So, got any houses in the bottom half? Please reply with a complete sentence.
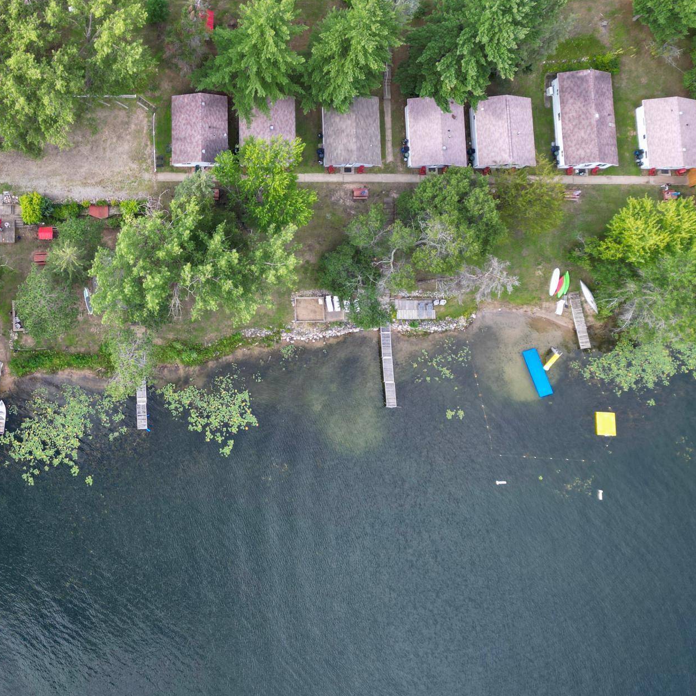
No, no house is visible in the bottom half.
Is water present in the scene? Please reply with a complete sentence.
Yes, there is water in the image.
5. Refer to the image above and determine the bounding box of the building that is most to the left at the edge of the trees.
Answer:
[171,92,228,177]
